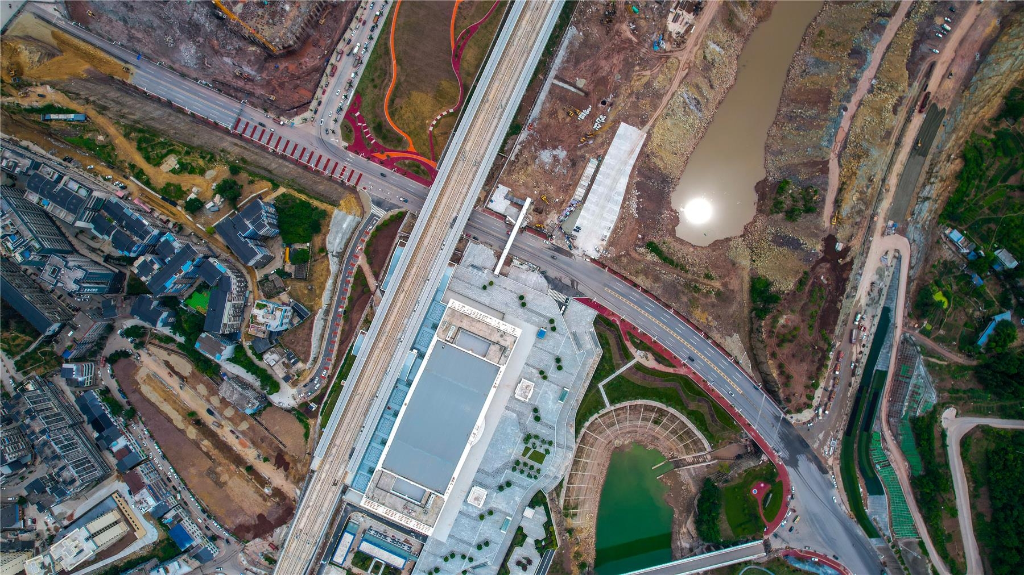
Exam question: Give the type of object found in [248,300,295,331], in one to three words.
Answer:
house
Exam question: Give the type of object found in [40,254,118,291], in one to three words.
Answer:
building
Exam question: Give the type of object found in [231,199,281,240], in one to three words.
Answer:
building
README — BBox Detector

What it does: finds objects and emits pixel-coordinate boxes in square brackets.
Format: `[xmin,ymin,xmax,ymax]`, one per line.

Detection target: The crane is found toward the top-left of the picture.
[202,0,285,60]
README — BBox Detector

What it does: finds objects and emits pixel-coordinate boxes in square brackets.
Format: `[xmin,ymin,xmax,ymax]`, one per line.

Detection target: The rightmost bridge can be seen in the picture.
[620,541,766,575]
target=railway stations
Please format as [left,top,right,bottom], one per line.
[346,240,522,535]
